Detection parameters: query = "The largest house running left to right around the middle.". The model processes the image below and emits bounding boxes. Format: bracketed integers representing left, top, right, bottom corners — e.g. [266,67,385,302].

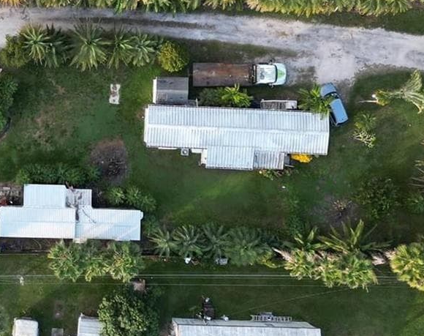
[143,104,331,168]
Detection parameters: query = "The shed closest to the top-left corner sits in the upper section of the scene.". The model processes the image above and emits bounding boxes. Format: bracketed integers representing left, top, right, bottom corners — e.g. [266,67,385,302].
[152,78,190,103]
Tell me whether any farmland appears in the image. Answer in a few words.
No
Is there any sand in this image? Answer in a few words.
No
